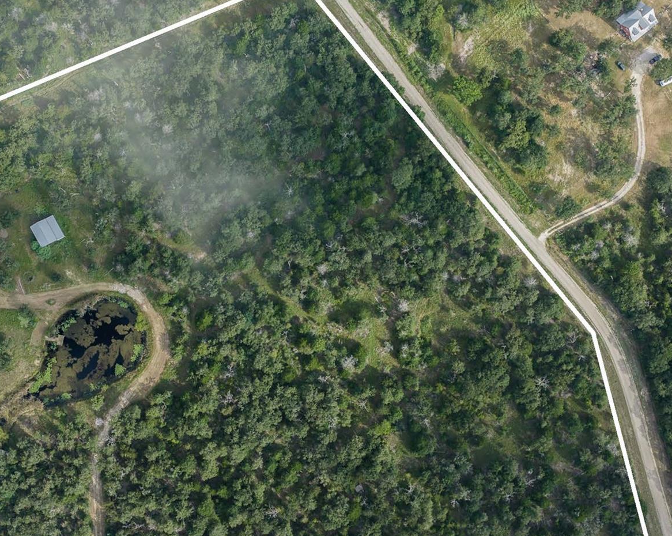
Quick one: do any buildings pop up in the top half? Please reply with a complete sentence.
Yes, looking in the top half, one can make out a building.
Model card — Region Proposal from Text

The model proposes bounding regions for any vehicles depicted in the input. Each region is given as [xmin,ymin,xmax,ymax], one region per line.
[649,52,664,63]
[660,77,672,86]
[617,59,628,71]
